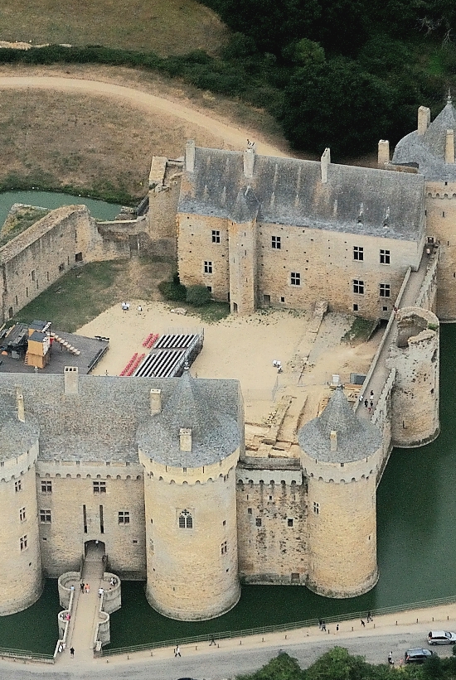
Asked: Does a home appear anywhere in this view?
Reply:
Yes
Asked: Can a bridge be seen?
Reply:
Yes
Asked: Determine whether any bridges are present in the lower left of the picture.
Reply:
Yes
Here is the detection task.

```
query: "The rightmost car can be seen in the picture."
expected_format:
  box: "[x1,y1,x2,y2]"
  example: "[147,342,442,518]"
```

[426,628,456,646]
